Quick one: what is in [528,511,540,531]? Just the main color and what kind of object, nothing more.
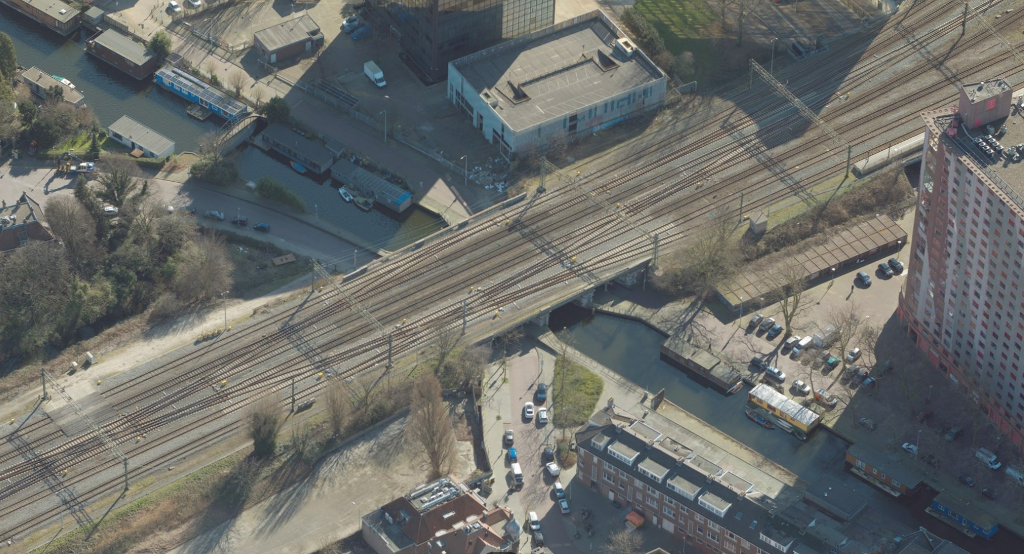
white vehicle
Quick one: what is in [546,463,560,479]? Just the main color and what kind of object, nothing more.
white car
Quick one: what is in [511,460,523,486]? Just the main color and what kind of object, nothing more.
white vehicle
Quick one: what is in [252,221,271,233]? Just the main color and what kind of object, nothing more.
blue vehicle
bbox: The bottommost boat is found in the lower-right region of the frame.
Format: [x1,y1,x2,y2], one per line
[926,493,995,541]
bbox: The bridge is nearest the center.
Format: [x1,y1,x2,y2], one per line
[343,188,654,343]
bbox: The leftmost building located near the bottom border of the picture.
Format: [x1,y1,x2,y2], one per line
[363,475,529,554]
